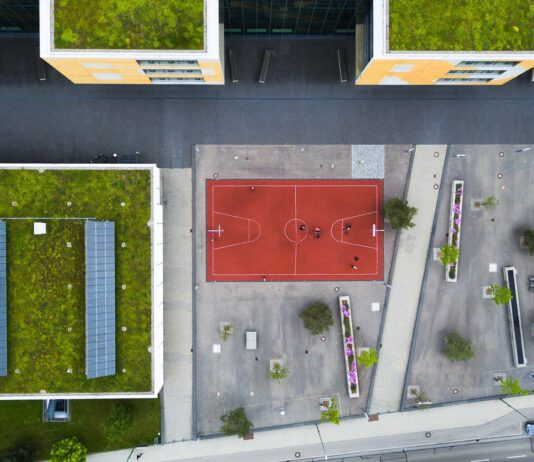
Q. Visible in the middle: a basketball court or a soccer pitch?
basketball court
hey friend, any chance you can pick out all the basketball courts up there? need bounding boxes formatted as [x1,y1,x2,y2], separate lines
[205,178,385,282]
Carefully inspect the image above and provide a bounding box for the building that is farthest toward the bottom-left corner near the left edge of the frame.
[0,164,164,399]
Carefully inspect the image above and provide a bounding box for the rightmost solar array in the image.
[84,221,116,379]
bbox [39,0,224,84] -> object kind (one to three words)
building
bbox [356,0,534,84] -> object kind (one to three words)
building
